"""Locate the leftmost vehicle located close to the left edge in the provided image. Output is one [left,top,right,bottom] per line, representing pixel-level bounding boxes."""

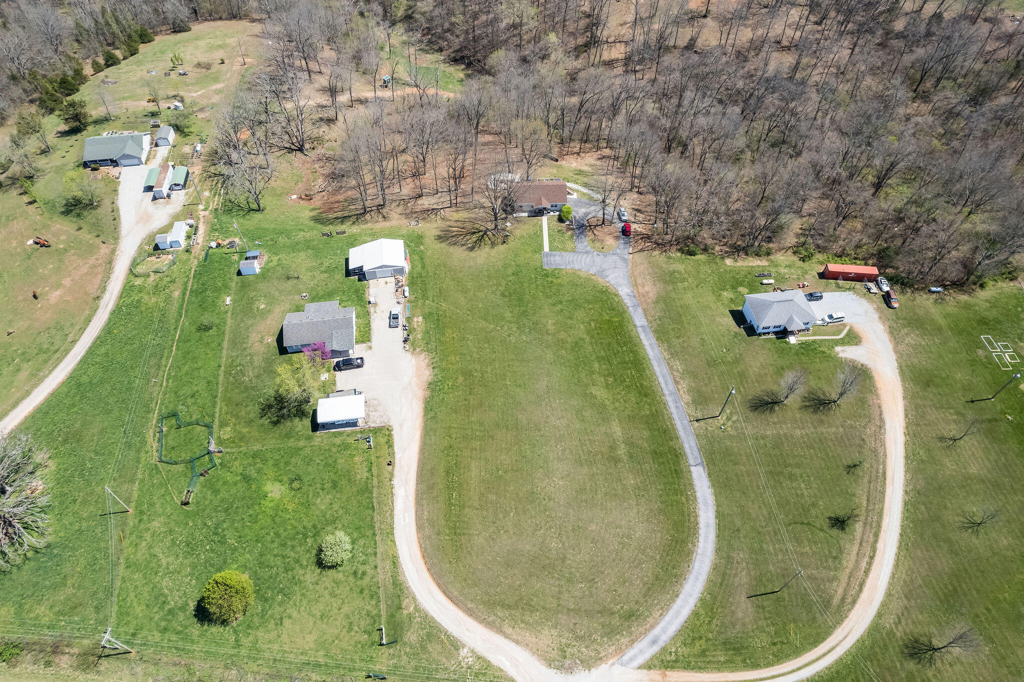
[30,235,52,249]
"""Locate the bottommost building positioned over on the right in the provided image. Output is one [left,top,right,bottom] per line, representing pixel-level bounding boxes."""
[743,289,819,340]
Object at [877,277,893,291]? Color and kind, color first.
gray car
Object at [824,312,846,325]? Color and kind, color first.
white vehicle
